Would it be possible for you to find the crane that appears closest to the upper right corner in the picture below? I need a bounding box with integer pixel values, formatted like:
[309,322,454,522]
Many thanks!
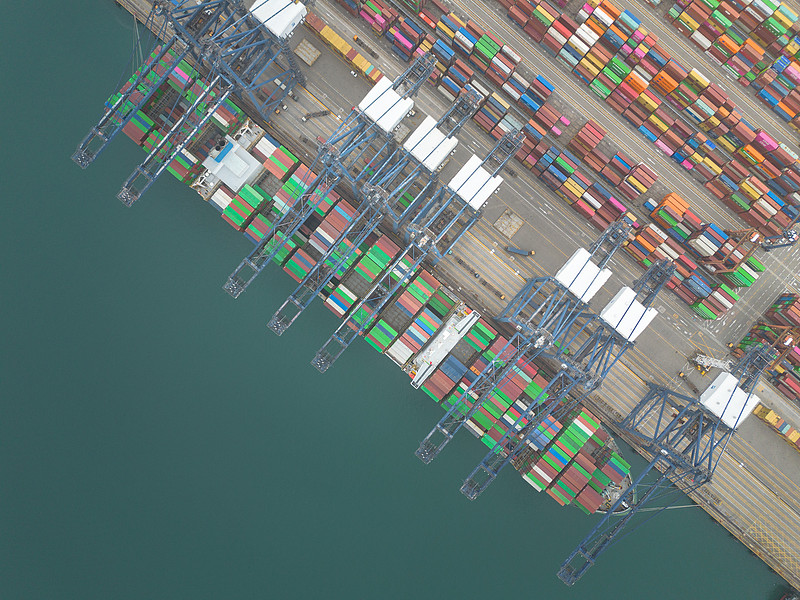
[761,207,800,255]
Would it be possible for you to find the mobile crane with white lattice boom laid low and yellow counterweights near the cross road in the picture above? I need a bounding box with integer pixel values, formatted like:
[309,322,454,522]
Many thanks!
[688,350,745,376]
